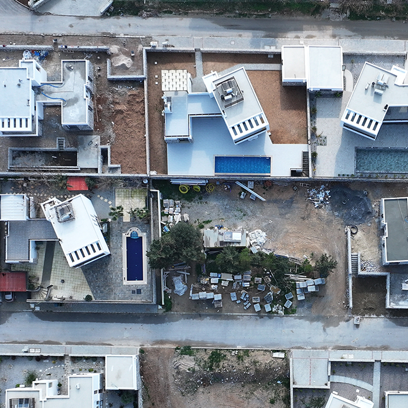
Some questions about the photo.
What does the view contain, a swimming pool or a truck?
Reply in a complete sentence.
Of the two, only a swimming pool appears.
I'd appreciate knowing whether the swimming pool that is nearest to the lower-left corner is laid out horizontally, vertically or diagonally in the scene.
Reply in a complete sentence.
What the image shows is the swimming pool that is nearest to the lower-left corner lying vertically.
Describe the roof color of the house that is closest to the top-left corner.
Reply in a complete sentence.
The roof of the house that is closest to the top-left corner is white.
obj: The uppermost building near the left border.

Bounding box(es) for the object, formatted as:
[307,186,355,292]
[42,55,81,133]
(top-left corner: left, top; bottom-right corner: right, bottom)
[0,60,92,139]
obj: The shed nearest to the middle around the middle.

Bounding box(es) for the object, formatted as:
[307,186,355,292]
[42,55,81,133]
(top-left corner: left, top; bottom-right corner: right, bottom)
[203,228,247,247]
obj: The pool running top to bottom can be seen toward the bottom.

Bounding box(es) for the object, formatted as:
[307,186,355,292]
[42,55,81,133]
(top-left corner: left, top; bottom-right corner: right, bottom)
[123,226,147,284]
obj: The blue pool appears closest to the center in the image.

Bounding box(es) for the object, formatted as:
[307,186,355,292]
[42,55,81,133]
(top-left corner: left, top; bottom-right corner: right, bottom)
[214,152,273,175]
